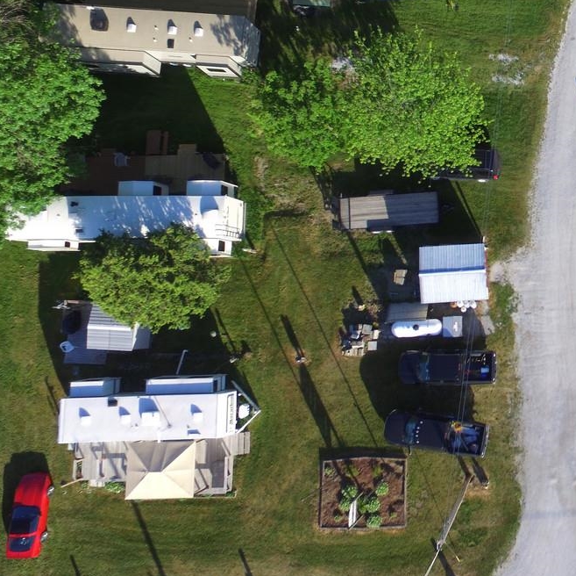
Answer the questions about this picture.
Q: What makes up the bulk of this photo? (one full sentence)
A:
For the most part, this view shows grass.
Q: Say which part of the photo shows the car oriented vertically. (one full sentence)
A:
The car oriented vertically is located in the bottom left region of the scene.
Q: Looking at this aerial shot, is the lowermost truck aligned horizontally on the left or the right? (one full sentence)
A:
You can find the lowermost truck aligned horizontally on the right side of the picture.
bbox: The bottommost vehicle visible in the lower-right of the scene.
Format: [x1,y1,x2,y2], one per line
[384,409,493,458]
